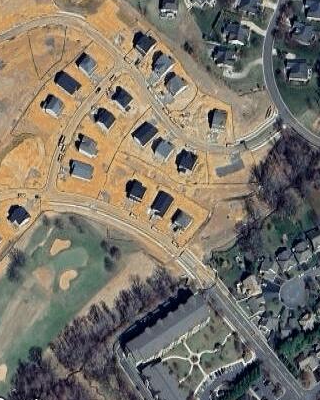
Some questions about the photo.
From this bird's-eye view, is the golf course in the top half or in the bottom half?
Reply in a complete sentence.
Seen from above, the golf course lies in the bottom half of the view.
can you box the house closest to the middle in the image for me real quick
[151,190,175,218]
